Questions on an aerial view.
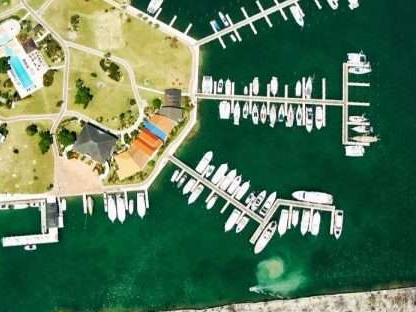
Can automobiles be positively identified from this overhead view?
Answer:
No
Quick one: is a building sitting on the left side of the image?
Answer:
Yes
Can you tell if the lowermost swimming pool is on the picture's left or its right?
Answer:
left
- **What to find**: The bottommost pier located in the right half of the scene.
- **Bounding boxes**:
[169,154,335,242]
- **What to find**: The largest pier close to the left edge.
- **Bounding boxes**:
[3,202,58,247]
